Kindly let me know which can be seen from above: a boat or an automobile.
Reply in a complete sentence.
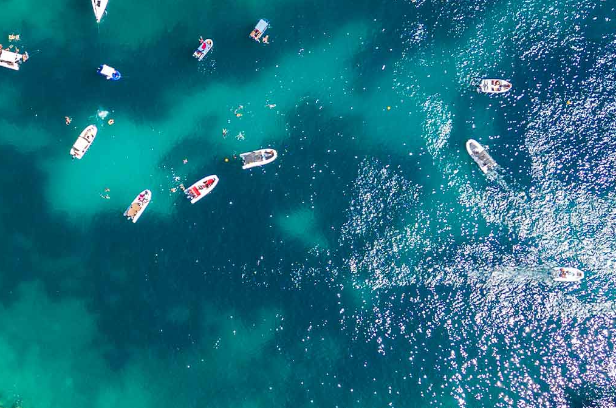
The image shows a boat.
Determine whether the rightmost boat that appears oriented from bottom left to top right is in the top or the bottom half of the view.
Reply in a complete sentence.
The top half of the photo is where the rightmost boat that appears oriented from bottom left to top right is.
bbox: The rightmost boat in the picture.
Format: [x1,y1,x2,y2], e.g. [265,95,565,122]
[551,268,585,282]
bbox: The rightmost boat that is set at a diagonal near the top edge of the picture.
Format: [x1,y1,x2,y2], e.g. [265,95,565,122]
[248,17,271,42]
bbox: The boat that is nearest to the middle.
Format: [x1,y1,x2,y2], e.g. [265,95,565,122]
[240,149,280,168]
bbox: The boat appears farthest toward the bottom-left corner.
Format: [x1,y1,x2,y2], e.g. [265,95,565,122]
[123,190,152,223]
